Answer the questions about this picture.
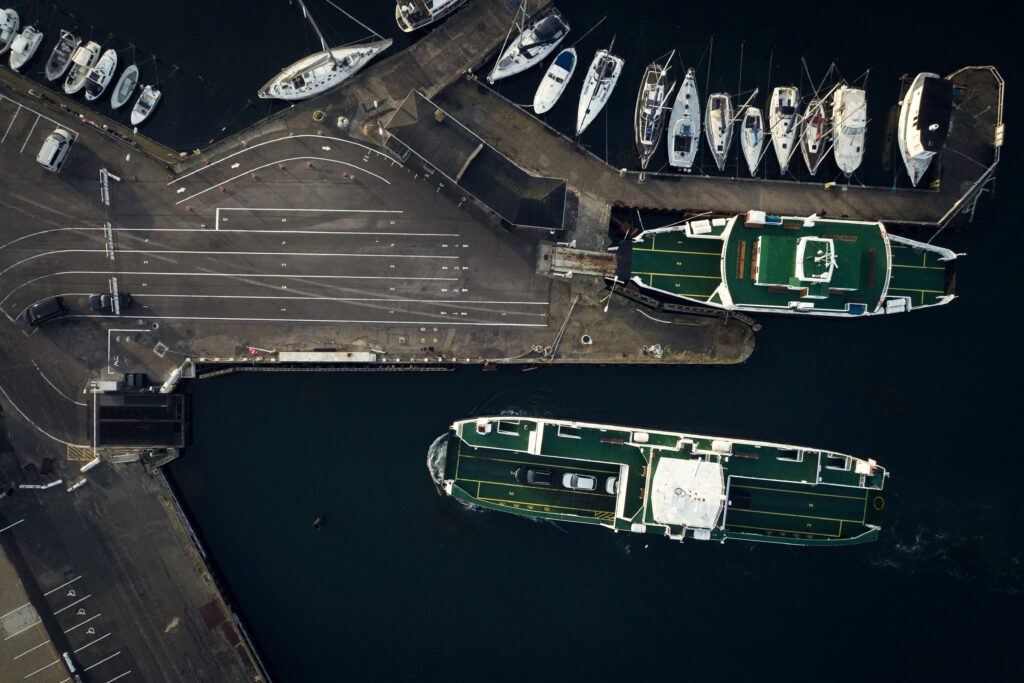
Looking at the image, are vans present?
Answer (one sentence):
Yes, the photo shows a van.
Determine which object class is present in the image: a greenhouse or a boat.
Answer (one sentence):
Looking from above, you can make out a boat.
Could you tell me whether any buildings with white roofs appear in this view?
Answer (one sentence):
No, there appears to be no building with a white roof in this shot.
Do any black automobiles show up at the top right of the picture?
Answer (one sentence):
No, looking at the top right of the picture, there is no black automobile.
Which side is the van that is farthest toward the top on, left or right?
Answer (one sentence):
The van that is farthest toward the top sits on the left side.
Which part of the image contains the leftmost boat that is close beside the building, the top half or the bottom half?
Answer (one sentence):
The top half of the photo is where the leftmost boat that is close beside the building is.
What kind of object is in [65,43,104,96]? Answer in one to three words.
boat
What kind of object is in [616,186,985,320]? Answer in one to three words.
ship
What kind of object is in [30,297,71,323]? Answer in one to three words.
car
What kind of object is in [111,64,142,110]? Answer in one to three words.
boat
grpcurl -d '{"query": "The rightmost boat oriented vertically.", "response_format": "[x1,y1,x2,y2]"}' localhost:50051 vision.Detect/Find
[897,73,953,189]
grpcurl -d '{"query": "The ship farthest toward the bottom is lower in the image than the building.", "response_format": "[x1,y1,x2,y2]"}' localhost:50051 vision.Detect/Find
[445,416,888,546]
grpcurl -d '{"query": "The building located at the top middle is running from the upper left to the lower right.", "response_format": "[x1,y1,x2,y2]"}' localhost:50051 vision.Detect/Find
[385,90,567,235]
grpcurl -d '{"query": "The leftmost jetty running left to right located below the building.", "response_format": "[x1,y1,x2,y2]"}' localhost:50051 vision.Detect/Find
[201,365,456,379]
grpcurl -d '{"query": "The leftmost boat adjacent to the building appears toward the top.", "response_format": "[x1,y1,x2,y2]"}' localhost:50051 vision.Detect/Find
[254,0,392,101]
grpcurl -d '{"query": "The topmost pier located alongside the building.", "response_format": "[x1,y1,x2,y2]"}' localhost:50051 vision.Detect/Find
[356,0,572,86]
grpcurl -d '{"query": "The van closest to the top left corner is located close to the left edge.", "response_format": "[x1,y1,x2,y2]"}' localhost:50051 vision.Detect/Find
[38,133,74,173]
